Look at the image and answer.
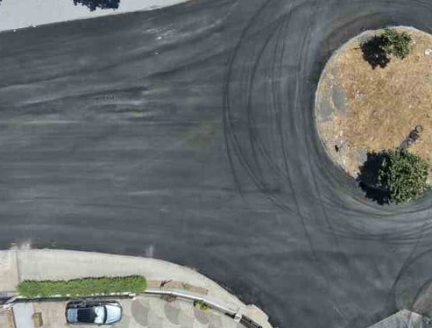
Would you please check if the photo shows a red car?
No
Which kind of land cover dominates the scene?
paved ground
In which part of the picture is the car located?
bottom left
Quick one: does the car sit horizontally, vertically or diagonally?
horizontally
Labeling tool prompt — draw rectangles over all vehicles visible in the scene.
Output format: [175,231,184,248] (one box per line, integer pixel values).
[65,297,124,327]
